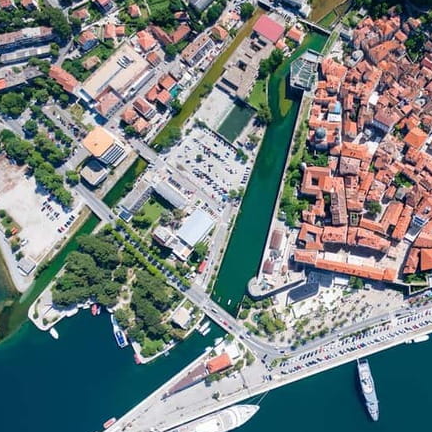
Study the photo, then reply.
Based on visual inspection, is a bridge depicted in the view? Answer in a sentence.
Yes, the photo shows a bridge.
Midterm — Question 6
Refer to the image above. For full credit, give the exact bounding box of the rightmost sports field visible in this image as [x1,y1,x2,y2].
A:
[218,102,257,145]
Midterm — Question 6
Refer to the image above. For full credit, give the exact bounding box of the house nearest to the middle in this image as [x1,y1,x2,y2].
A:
[177,208,216,245]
